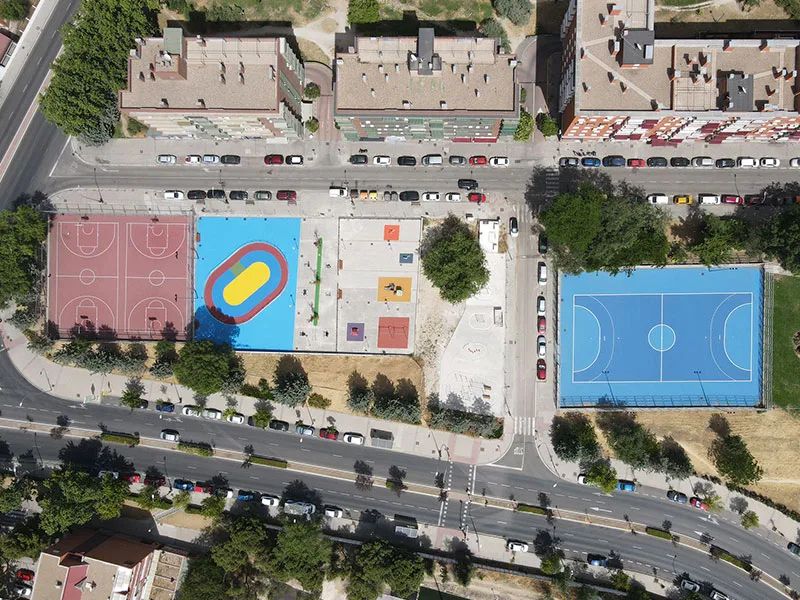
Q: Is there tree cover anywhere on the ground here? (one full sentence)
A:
Yes, there's tree cover in this view.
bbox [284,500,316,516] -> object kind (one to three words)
vehicle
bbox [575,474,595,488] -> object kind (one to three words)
vehicle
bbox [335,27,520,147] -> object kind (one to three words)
building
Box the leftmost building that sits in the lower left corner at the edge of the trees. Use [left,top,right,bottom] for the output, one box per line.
[29,533,158,600]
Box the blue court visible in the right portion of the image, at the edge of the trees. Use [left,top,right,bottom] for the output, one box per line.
[559,264,764,407]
